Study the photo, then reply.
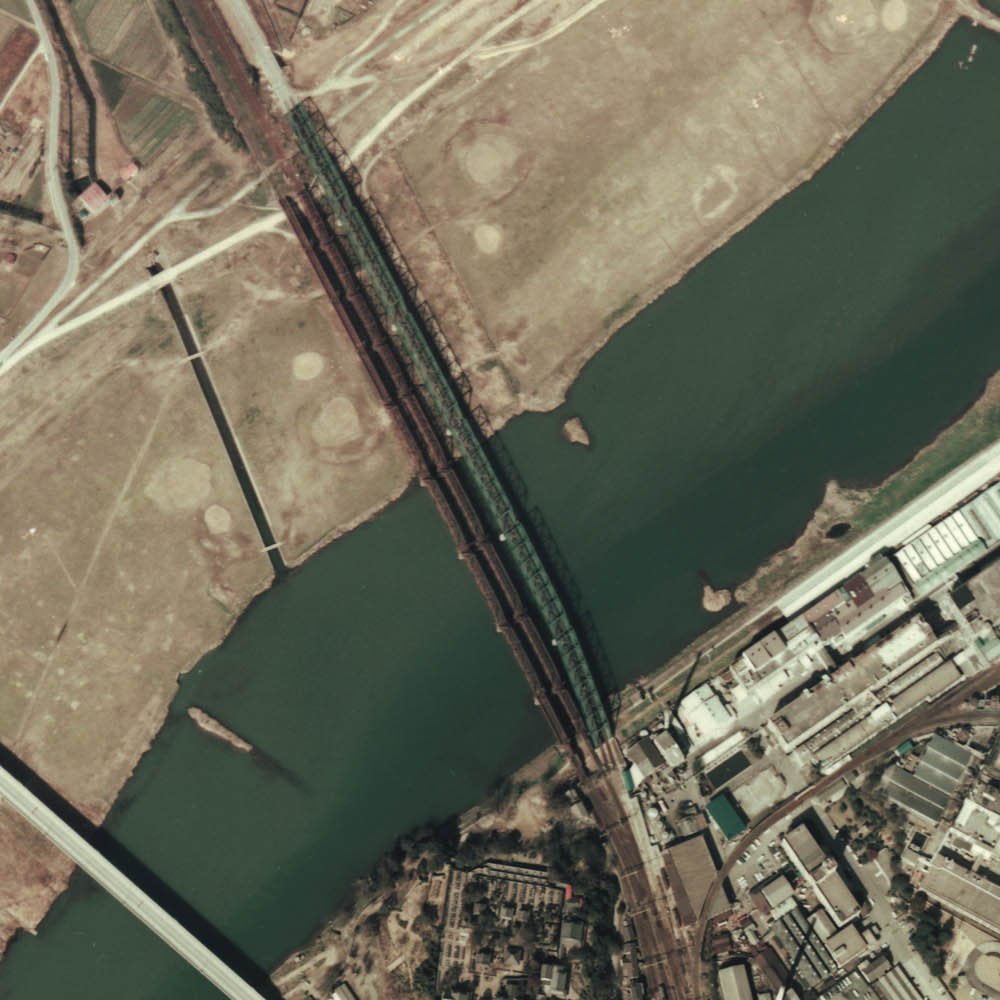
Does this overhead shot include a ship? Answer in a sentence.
No, I can see no ship in this picture.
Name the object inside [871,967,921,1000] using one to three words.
building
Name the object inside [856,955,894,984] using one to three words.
building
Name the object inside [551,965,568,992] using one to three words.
house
